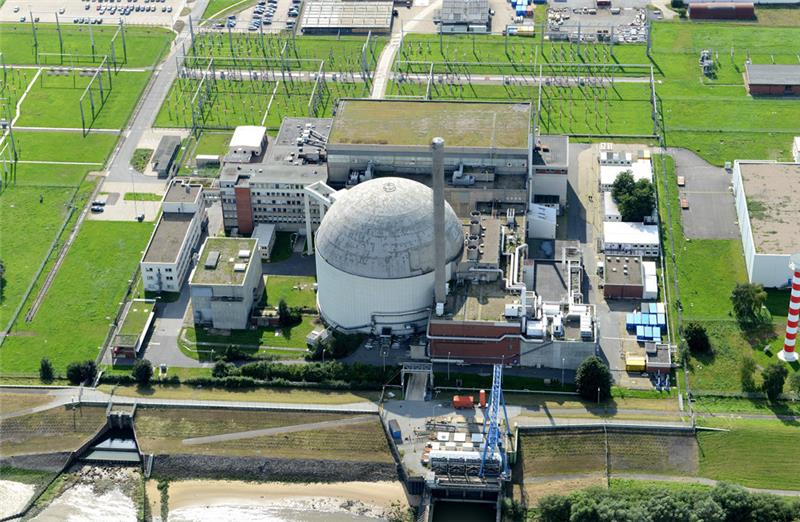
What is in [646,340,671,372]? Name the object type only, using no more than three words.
house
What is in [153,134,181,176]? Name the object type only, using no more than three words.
shed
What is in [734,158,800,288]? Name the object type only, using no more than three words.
building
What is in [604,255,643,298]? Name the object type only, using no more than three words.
building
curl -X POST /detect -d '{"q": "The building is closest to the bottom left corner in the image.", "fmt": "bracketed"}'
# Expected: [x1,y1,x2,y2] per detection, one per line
[104,297,159,358]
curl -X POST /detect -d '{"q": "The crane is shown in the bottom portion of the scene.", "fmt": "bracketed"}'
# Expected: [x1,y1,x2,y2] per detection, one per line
[480,361,512,477]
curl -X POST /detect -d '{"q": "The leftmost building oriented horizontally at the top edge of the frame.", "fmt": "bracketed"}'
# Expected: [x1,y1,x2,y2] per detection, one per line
[300,0,395,38]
